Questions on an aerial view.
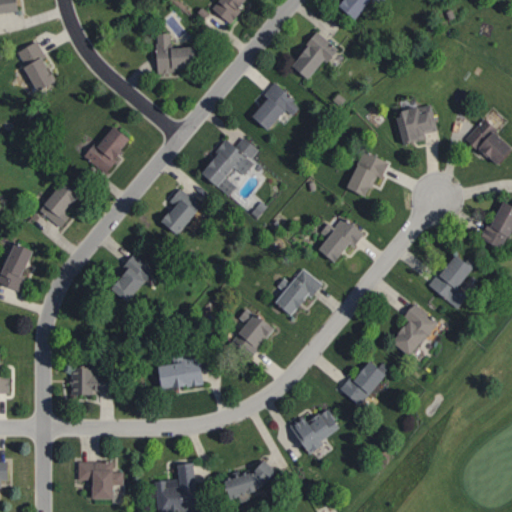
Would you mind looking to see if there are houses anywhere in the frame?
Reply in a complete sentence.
Yes, looking at the shot, I can spot a house.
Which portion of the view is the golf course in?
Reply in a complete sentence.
The golf course is in the bottom right part of the image.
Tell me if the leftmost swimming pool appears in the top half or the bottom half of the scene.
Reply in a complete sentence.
The leftmost swimming pool is in the top half of the image.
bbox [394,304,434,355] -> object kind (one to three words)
house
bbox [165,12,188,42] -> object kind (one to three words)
swimming pool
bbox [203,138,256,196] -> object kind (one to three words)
house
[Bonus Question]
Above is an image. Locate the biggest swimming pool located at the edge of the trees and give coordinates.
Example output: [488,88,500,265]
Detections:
[226,161,266,212]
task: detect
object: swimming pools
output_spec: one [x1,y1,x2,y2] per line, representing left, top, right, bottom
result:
[165,12,188,42]
[226,161,266,212]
